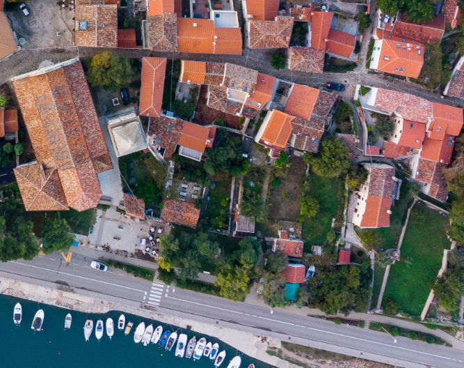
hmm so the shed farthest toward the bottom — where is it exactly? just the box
[284,262,306,284]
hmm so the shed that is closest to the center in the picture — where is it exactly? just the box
[235,210,256,233]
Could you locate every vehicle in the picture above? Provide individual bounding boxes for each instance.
[328,83,348,90]
[91,261,108,272]
[122,89,129,106]
[20,2,30,16]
